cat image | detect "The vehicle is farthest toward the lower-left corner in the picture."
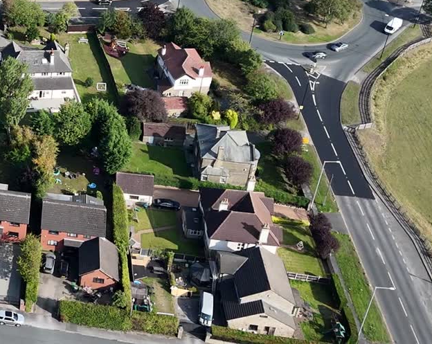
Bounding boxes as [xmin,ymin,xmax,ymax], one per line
[0,308,25,326]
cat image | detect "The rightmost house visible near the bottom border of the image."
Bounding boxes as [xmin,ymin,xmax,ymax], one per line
[217,245,300,333]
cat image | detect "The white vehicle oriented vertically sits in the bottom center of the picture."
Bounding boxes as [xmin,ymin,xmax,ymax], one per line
[199,292,214,323]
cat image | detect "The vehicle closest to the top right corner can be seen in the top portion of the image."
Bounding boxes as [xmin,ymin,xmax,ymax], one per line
[388,12,402,30]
